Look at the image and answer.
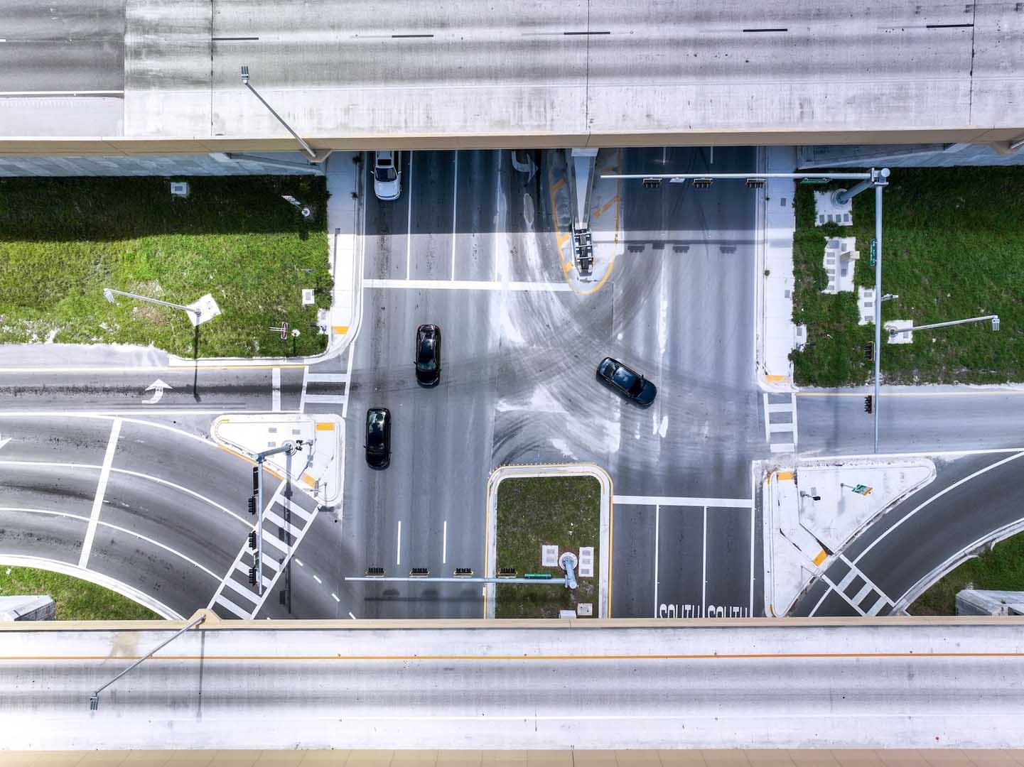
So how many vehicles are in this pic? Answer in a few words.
four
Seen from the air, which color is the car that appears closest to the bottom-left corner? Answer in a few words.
black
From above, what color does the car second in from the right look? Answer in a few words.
black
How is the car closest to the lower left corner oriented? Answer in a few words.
vertically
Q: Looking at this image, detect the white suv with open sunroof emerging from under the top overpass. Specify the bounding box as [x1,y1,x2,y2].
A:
[371,151,402,199]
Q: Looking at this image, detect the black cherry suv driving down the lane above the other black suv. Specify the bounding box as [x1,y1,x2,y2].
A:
[413,326,442,387]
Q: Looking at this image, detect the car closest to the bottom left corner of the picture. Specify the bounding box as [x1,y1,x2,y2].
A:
[363,409,393,469]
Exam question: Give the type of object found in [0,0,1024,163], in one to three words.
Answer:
bridge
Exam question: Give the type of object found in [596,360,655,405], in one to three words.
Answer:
car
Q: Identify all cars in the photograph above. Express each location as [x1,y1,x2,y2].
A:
[413,326,442,387]
[363,409,393,469]
[371,151,402,199]
[596,360,655,405]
